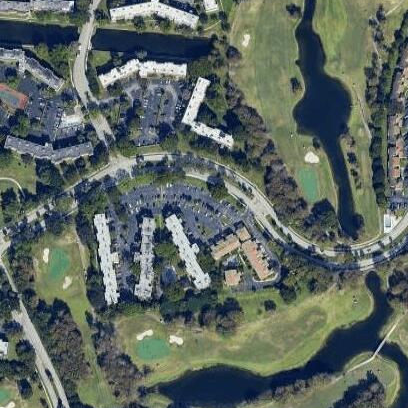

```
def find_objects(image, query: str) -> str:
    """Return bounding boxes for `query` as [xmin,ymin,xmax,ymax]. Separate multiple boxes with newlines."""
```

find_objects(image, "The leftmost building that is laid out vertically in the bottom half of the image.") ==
[93,214,119,305]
